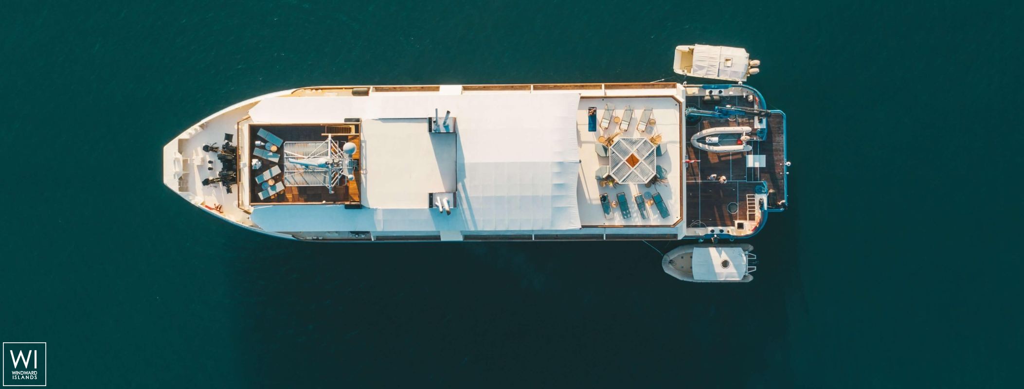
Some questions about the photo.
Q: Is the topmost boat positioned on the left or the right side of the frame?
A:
right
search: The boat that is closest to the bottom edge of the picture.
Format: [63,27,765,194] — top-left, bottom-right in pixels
[662,243,757,283]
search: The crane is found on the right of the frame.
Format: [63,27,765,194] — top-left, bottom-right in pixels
[687,104,771,126]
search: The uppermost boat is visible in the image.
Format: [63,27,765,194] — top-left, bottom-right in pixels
[674,44,760,81]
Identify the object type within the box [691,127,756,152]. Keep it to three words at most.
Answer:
boat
